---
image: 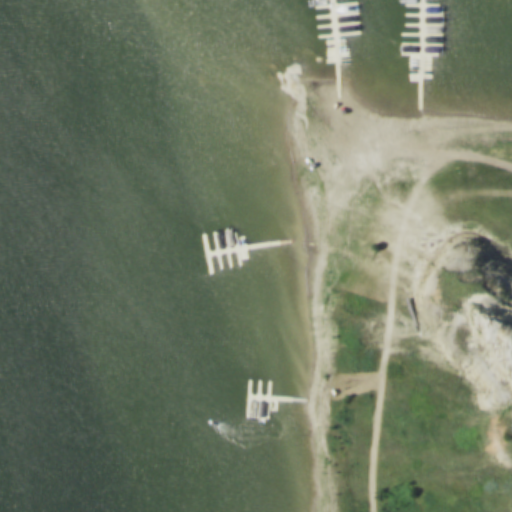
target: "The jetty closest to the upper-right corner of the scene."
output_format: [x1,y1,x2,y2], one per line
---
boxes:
[400,0,445,112]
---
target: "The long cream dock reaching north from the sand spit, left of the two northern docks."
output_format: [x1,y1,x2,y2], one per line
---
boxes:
[314,0,362,101]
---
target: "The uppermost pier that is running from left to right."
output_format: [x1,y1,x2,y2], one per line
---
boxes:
[202,228,293,274]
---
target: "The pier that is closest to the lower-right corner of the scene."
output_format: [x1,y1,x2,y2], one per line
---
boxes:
[246,379,310,424]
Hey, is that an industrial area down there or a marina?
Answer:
marina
